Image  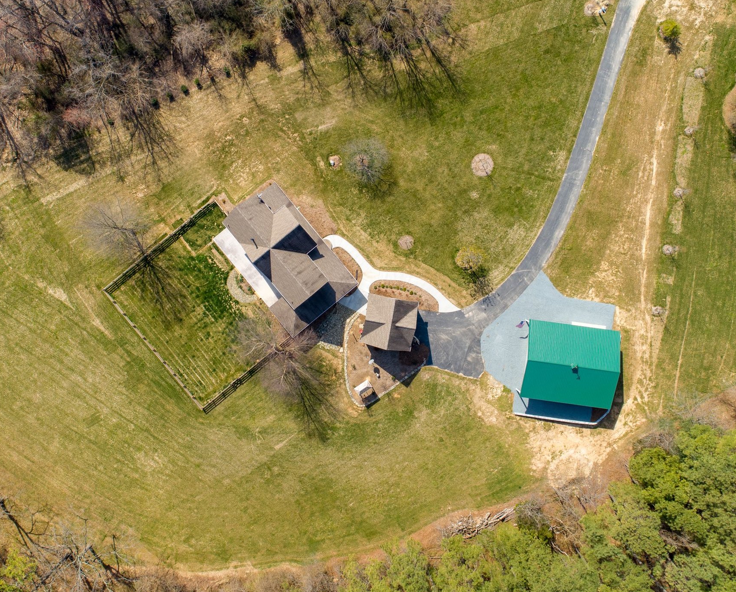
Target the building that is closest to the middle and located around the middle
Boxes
[360,292,422,352]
